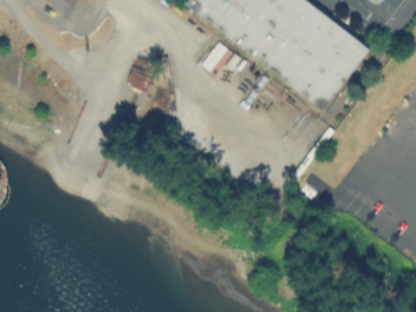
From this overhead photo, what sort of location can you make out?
port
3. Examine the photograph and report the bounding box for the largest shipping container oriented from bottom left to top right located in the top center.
[202,42,230,73]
